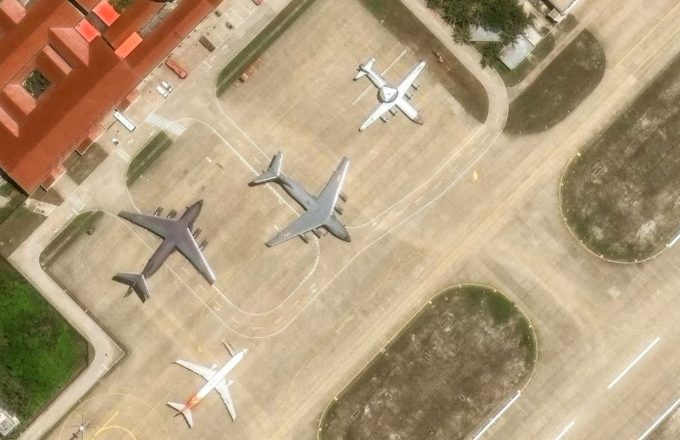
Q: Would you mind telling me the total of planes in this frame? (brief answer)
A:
4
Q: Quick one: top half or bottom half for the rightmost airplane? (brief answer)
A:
top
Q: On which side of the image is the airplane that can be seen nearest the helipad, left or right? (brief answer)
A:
left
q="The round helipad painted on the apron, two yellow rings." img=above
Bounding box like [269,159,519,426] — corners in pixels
[59,394,169,440]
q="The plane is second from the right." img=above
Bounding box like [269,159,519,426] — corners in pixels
[251,151,351,247]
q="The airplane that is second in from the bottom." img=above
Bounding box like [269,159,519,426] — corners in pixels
[116,201,214,301]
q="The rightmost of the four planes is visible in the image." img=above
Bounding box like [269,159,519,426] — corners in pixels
[357,61,426,133]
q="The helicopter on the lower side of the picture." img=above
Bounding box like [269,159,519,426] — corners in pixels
[70,415,93,440]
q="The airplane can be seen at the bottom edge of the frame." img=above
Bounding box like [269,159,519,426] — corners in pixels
[170,349,246,425]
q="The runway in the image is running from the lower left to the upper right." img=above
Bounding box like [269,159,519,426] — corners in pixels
[469,232,680,440]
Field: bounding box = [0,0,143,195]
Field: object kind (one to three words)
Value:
building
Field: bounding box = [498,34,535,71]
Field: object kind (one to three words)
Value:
house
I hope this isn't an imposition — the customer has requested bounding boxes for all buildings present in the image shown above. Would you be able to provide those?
[548,0,577,16]
[0,407,22,437]
[469,26,503,42]
[498,34,535,71]
[0,0,143,195]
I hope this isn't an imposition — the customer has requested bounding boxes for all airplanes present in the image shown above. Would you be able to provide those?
[357,61,426,133]
[116,201,214,301]
[170,349,246,425]
[251,151,351,247]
